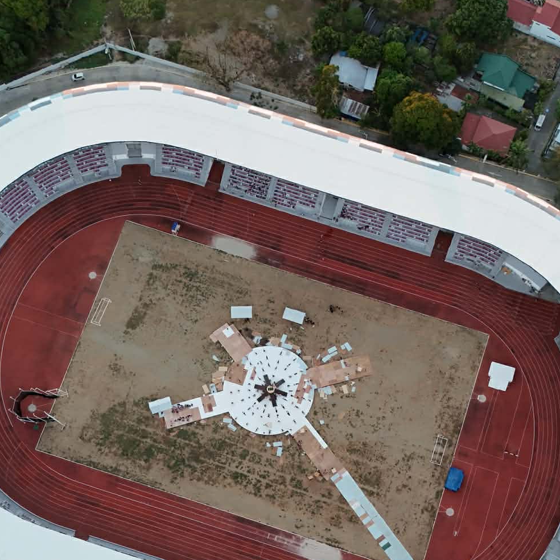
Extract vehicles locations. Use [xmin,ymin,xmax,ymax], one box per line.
[72,72,85,82]
[535,114,547,132]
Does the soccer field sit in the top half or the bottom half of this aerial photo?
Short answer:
bottom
